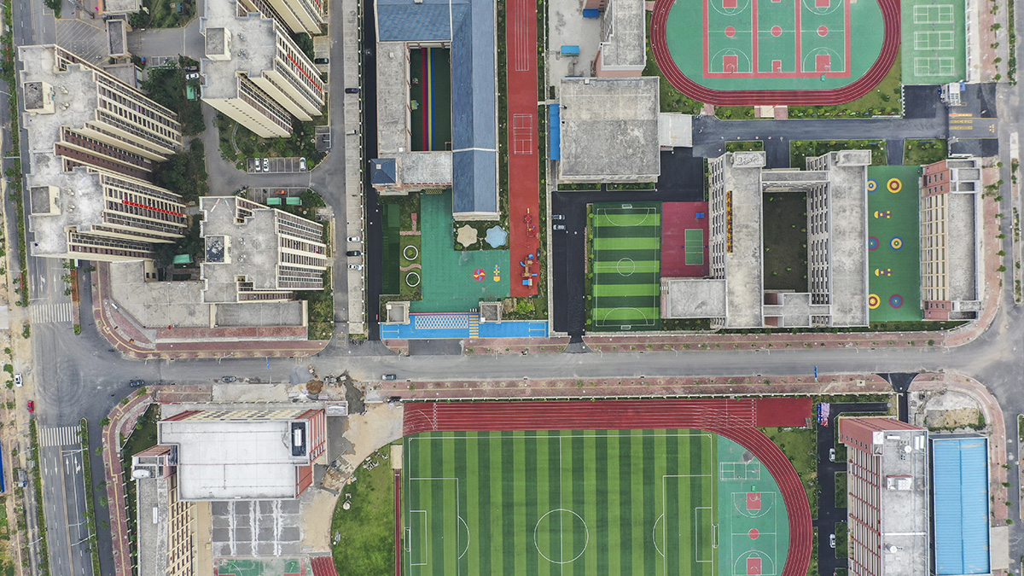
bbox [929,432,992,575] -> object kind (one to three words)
shed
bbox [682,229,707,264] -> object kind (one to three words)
sports court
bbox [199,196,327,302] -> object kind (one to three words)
building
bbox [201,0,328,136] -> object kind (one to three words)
building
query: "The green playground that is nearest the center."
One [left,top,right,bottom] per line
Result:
[411,188,509,313]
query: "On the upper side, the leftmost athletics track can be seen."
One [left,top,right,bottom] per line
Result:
[507,0,540,297]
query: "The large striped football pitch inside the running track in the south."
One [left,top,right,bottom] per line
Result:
[404,430,718,576]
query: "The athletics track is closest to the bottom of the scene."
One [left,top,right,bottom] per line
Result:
[314,398,812,576]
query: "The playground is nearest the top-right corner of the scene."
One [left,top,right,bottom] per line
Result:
[868,166,922,322]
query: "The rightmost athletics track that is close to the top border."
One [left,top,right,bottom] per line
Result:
[651,0,901,105]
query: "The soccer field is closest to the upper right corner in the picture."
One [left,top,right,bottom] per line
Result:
[592,202,662,331]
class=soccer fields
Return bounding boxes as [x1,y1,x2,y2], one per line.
[592,202,662,331]
[404,430,718,576]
